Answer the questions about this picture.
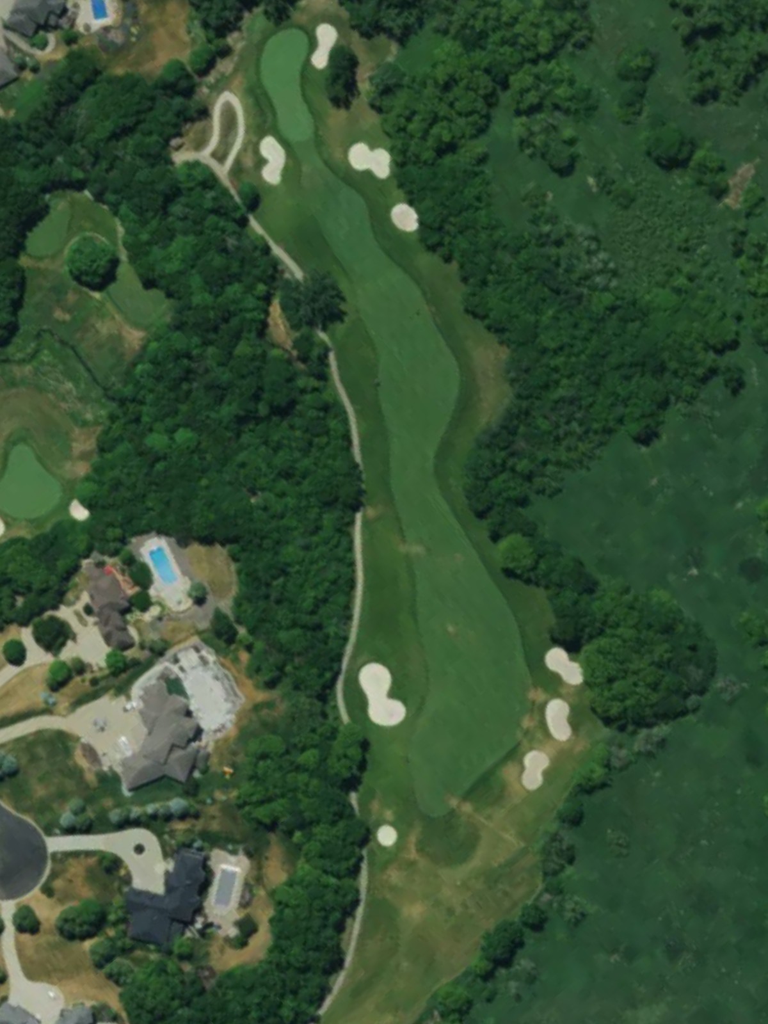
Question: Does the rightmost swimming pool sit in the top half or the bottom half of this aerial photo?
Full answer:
Seen from above, the rightmost swimming pool lies in the bottom half of the view.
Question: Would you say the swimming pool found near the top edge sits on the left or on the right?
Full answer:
The swimming pool found near the top edge appears in the left half of the scene.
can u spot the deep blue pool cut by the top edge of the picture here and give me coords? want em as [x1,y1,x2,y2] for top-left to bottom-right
[71,0,123,34]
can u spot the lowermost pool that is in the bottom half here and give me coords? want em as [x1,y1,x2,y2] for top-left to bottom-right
[204,849,250,936]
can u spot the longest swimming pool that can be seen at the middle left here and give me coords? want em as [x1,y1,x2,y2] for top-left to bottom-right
[141,538,193,611]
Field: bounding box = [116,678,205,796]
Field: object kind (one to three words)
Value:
house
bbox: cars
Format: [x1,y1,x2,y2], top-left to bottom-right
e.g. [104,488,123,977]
[124,699,140,710]
[117,736,132,757]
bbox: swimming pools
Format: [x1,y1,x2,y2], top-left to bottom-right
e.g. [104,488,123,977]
[141,538,193,611]
[71,0,123,34]
[204,849,250,936]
